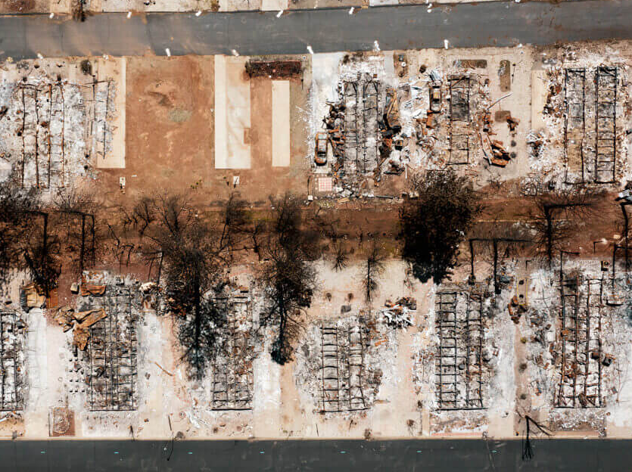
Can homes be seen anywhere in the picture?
Yes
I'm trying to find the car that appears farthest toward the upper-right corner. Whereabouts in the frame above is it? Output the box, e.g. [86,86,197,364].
[429,83,444,113]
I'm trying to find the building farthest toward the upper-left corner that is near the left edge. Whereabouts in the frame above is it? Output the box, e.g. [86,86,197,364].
[11,83,67,187]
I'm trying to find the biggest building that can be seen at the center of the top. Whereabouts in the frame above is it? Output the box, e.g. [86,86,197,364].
[341,66,382,187]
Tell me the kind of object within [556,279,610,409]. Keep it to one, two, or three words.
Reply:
house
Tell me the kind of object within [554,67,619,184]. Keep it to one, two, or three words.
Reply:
house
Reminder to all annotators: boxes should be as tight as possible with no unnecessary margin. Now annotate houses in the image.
[0,311,27,419]
[208,299,255,410]
[88,306,141,413]
[441,77,473,173]
[434,292,485,410]
[11,83,67,187]
[556,279,610,409]
[341,66,382,187]
[313,319,367,413]
[554,67,619,184]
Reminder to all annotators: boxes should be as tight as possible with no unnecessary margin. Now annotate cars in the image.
[429,83,444,113]
[315,132,329,165]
